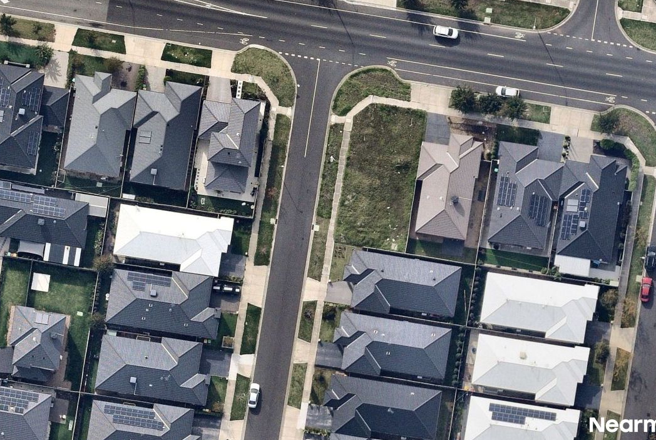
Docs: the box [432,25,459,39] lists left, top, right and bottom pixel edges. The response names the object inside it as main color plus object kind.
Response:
white car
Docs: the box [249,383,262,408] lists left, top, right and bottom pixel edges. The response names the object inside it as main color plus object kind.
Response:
white vehicle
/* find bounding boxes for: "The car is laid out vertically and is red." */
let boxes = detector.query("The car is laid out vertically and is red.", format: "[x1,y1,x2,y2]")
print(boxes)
[641,277,654,303]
